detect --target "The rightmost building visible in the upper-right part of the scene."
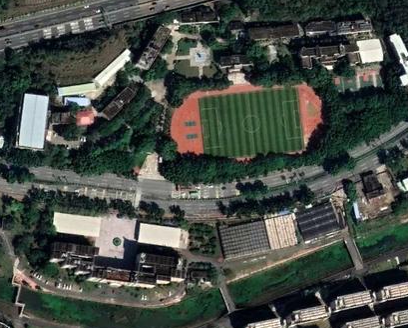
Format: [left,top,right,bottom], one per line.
[389,34,408,88]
